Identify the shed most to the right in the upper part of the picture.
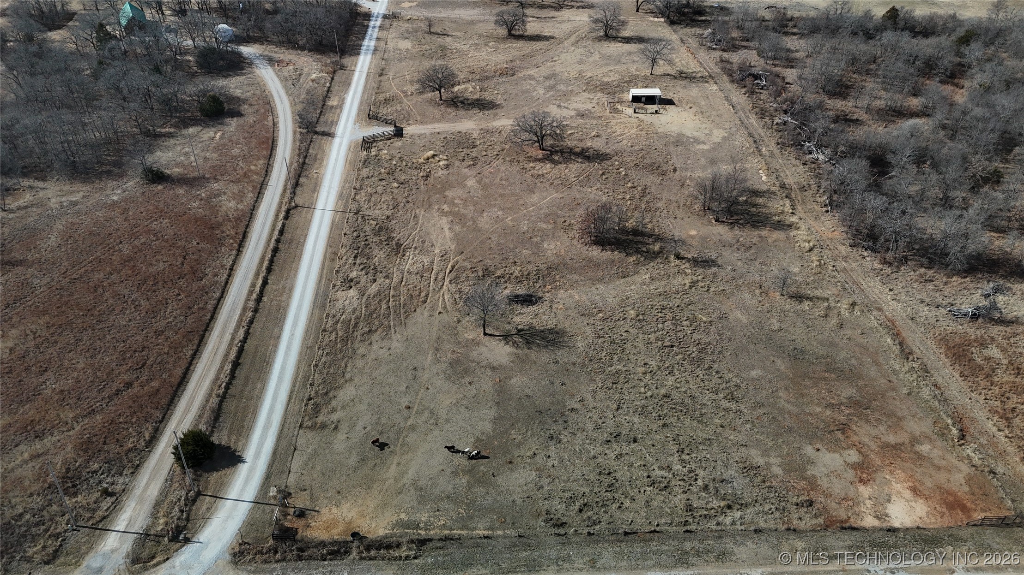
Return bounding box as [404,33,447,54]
[629,84,664,102]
